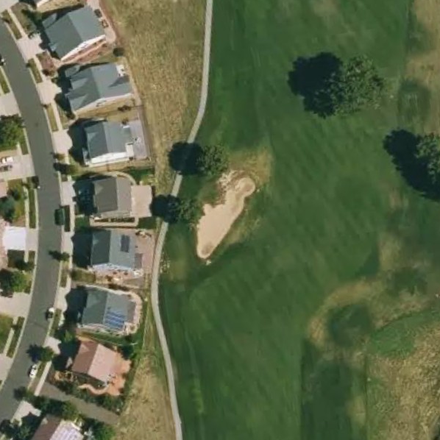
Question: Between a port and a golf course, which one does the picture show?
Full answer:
The area seen from above is a golf course.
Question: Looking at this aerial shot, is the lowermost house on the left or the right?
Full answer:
The lowermost house is on the left side of the image.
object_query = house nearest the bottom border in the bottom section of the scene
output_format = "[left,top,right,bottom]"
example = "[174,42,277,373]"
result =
[29,409,90,440]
